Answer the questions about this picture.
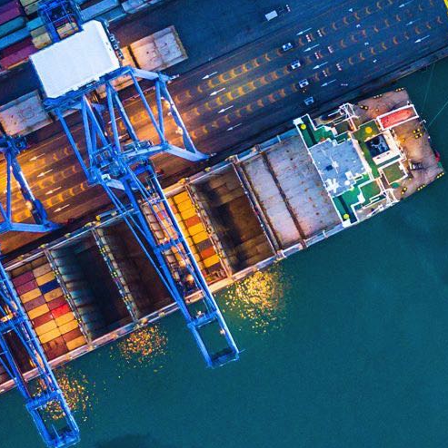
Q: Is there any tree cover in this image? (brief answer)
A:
No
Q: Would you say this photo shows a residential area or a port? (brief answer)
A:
port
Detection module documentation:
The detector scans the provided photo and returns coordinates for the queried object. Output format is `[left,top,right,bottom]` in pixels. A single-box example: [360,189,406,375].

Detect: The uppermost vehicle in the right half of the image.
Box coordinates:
[263,4,292,21]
